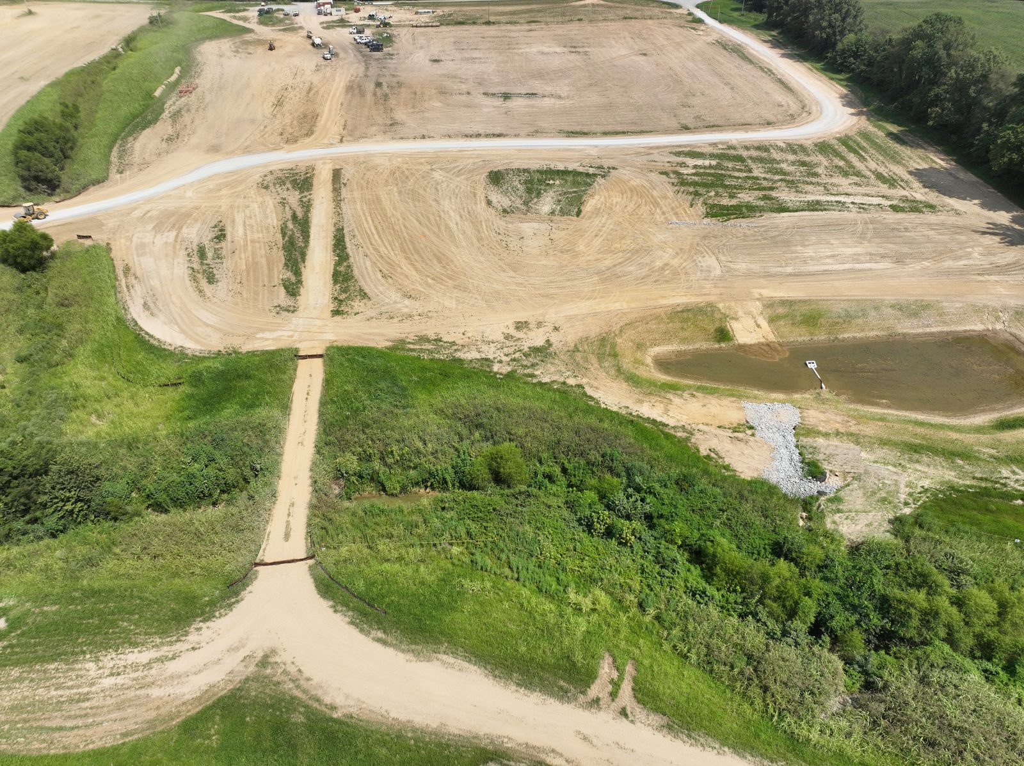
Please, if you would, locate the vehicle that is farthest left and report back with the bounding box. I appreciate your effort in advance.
[10,200,50,222]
